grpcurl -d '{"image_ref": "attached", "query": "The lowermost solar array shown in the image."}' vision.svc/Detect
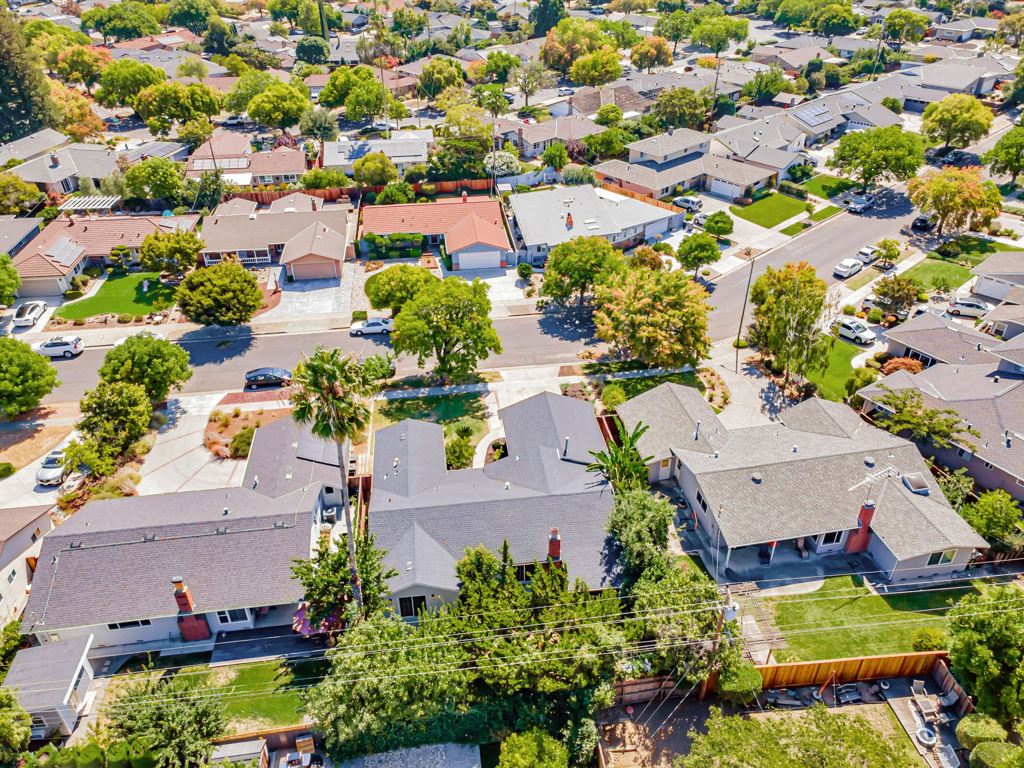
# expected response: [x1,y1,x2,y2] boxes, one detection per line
[299,425,338,465]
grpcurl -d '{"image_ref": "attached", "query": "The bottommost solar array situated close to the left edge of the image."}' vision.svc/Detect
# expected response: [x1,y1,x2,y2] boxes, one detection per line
[47,243,81,267]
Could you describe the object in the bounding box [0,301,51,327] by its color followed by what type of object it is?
white car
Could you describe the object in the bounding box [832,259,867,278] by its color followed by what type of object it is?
white car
